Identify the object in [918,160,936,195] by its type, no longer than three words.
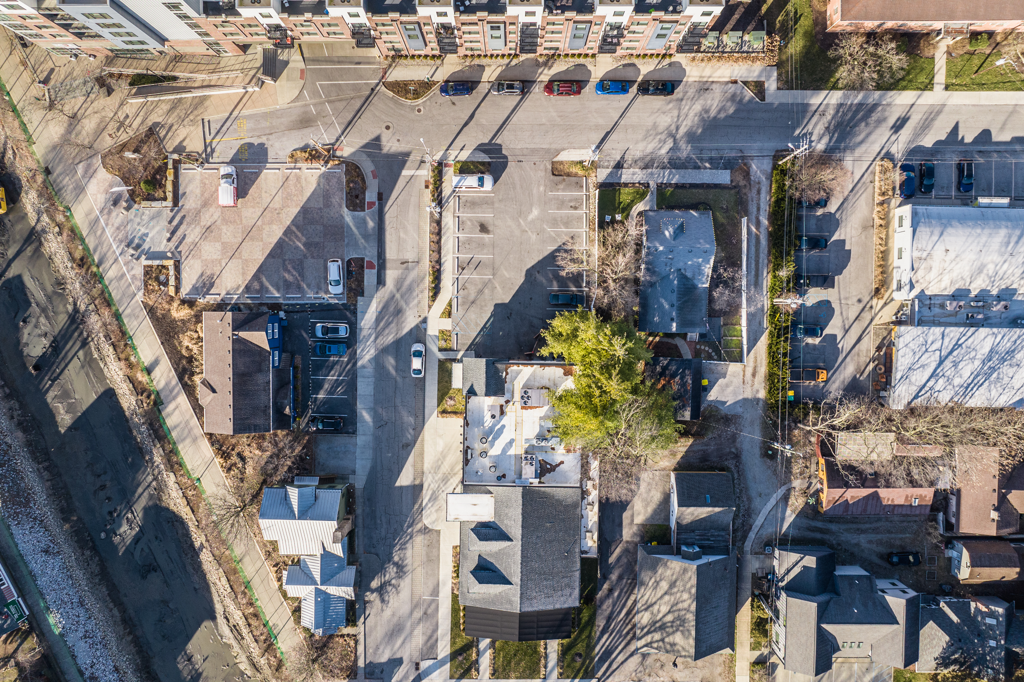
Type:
car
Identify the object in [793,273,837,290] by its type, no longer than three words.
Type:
vehicle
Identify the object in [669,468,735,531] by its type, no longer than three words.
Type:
house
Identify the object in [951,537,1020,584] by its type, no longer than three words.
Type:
shed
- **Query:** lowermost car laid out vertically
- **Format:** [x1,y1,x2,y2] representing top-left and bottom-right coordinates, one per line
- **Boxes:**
[410,343,426,377]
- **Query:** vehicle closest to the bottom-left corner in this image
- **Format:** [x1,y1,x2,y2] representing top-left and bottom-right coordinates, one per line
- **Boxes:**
[310,416,343,432]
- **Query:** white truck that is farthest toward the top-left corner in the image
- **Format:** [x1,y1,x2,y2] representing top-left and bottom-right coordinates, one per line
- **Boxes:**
[214,162,237,215]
